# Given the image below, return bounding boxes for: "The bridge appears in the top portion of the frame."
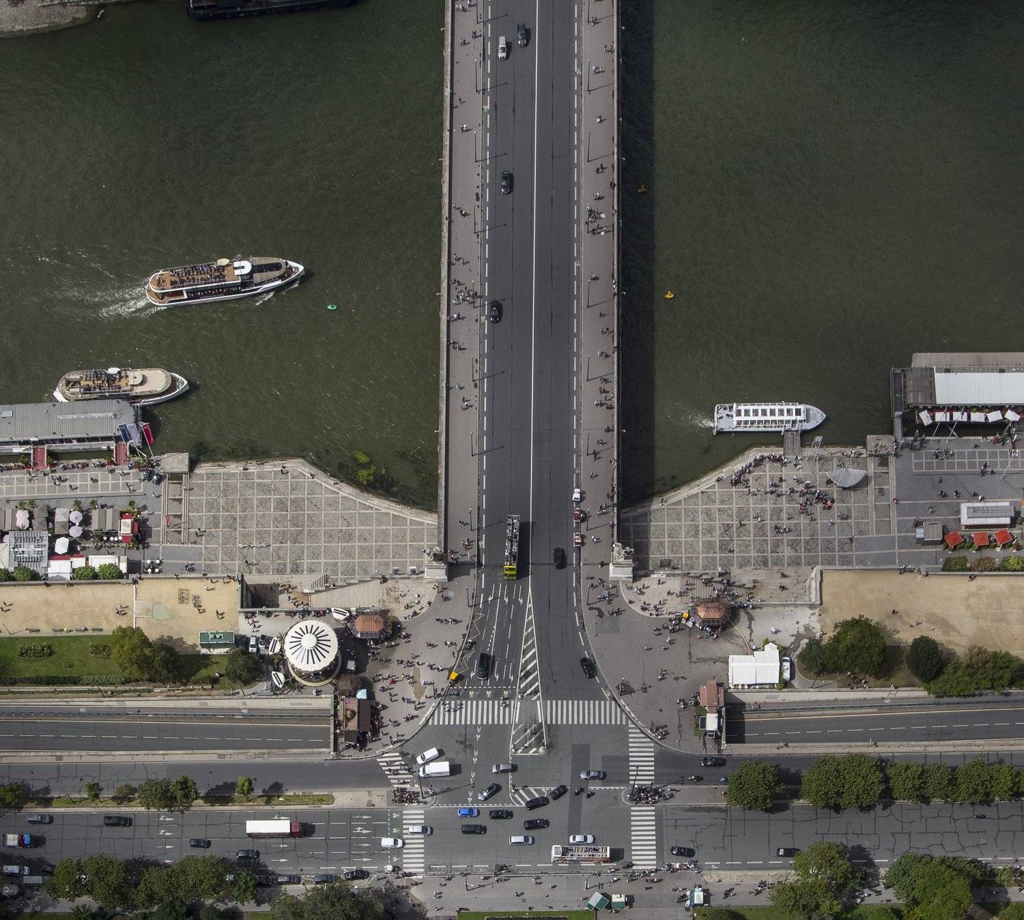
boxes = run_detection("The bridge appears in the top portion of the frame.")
[438,0,621,700]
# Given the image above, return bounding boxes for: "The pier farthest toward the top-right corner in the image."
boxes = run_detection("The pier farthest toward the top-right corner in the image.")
[890,353,1024,441]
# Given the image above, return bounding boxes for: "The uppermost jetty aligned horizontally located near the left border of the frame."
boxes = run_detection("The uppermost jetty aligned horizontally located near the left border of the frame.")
[0,398,141,456]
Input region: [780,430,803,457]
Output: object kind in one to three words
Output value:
pier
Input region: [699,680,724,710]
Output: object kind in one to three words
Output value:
shed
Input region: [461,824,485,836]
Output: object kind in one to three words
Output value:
vehicle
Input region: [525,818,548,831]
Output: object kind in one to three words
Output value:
vehicle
